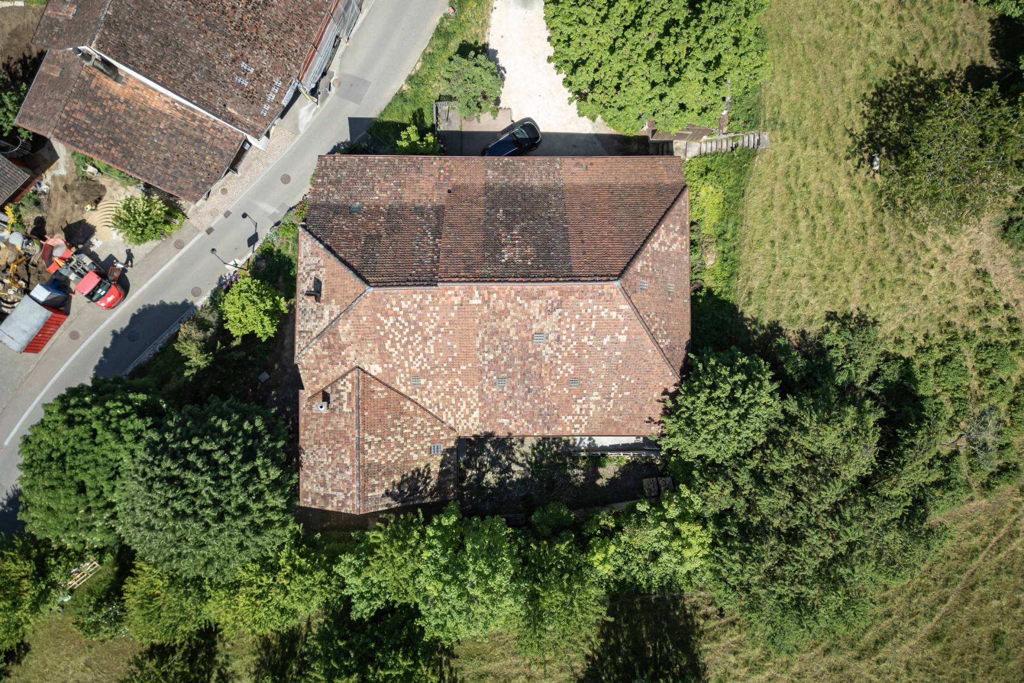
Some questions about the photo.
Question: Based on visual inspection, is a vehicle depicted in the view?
Yes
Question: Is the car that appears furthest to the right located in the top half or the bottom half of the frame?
top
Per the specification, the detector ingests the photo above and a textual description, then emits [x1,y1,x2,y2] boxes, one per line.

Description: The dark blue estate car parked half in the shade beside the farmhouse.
[475,116,543,154]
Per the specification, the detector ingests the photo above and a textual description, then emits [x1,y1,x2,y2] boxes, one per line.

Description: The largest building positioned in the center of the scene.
[294,154,693,514]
